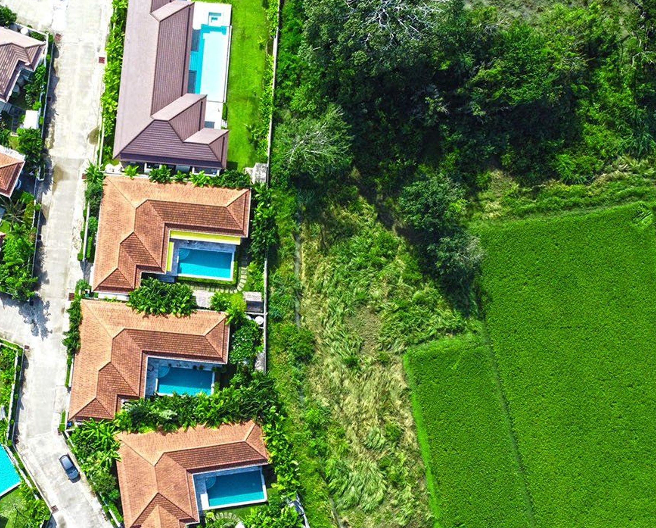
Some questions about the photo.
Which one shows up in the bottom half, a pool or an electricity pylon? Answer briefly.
pool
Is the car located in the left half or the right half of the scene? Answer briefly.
left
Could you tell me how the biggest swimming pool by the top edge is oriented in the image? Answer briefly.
up and down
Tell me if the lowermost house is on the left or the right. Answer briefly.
left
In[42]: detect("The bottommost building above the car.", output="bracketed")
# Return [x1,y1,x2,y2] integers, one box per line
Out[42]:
[69,298,232,425]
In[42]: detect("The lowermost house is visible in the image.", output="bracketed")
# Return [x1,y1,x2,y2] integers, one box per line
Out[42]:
[114,415,270,528]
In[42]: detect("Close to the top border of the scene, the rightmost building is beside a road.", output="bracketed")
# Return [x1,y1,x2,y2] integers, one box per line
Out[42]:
[113,0,229,170]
